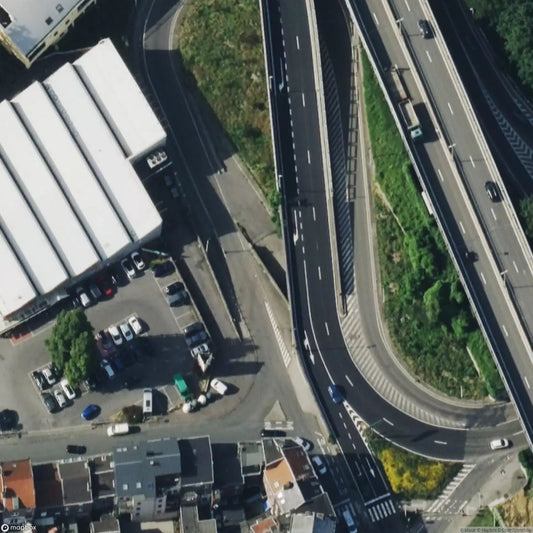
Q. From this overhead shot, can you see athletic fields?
No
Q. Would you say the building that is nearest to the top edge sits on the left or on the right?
left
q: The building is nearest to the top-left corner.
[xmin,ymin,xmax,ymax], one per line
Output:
[0,0,107,79]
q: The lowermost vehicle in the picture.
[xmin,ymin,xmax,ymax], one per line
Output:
[342,509,356,531]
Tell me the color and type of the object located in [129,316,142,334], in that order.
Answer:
white vehicle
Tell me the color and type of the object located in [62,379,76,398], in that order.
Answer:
white car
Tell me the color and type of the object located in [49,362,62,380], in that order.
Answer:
black vehicle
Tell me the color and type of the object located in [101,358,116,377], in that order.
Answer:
blue car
